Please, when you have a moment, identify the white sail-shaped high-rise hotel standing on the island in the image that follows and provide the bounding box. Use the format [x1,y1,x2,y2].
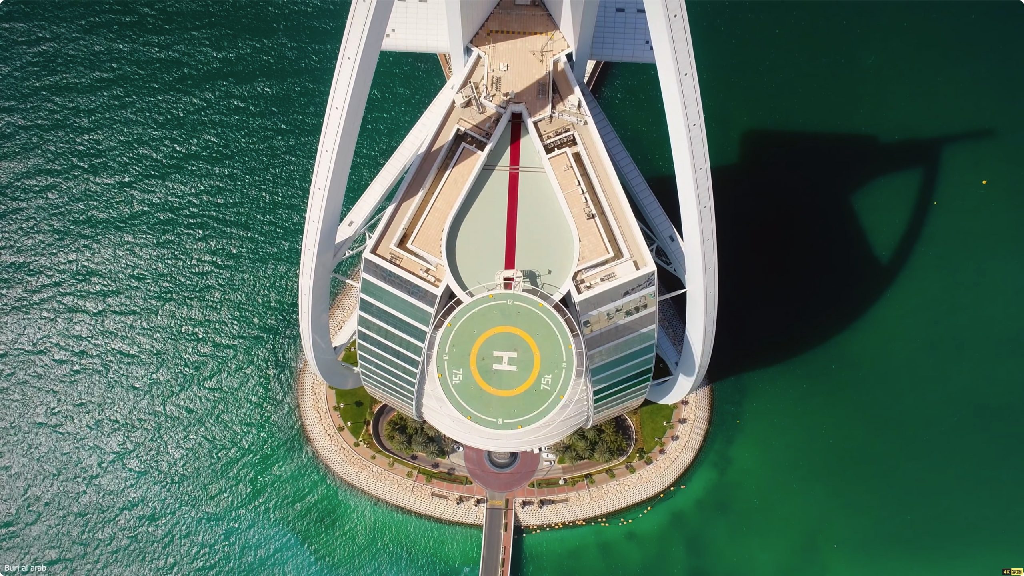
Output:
[299,0,718,453]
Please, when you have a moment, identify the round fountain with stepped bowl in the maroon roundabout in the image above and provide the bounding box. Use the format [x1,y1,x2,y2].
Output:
[483,450,521,473]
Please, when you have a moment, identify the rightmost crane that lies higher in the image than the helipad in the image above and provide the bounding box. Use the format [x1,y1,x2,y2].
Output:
[550,95,587,126]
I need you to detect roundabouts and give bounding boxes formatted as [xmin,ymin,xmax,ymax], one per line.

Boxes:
[463,444,553,493]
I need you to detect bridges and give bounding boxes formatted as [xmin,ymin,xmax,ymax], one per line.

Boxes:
[480,493,514,576]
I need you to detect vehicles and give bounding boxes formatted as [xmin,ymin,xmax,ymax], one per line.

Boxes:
[455,444,465,453]
[543,460,555,466]
[542,453,555,458]
[540,445,552,451]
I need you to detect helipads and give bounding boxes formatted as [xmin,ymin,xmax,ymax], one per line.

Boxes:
[424,267,586,443]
